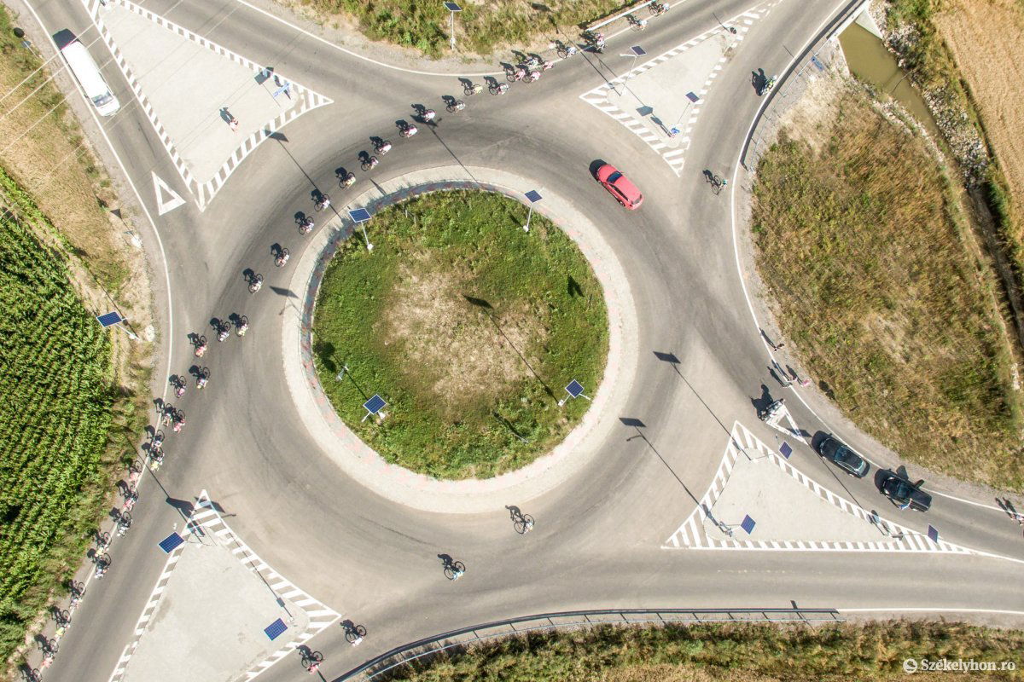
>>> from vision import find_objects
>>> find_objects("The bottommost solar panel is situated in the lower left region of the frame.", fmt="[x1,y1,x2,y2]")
[257,614,287,642]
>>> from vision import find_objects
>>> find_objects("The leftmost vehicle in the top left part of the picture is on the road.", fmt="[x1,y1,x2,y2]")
[63,41,124,120]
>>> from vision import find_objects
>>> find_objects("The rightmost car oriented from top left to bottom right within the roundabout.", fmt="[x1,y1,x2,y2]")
[595,168,646,213]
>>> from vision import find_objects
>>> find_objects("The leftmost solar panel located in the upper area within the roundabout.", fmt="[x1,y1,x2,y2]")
[349,207,374,222]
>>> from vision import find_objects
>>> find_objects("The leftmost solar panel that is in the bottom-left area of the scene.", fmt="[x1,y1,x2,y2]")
[156,529,187,555]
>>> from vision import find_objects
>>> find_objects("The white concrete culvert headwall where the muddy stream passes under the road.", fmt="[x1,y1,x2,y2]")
[827,0,882,75]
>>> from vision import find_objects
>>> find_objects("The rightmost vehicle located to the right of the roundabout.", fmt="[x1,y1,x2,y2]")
[880,478,935,516]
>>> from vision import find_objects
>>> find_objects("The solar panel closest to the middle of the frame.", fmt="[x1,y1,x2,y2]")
[563,377,584,397]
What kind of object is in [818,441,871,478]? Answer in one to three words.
car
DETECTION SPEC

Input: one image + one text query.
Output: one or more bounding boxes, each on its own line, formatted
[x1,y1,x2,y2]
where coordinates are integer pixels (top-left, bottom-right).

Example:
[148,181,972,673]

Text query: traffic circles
[177,81,734,621]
